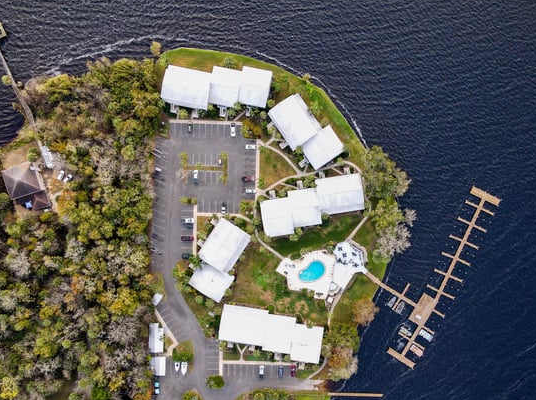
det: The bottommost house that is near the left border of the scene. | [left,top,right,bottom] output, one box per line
[2,160,52,210]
